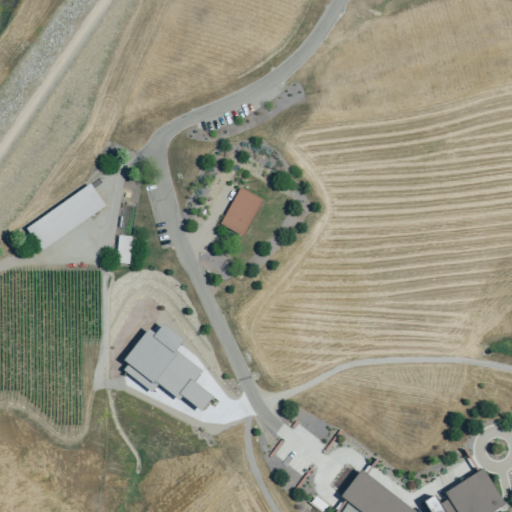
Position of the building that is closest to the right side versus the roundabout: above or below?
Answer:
below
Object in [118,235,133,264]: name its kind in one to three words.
shed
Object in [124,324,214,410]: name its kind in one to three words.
building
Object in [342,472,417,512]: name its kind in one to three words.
building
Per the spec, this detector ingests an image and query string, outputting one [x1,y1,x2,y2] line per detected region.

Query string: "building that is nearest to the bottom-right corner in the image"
[442,470,506,512]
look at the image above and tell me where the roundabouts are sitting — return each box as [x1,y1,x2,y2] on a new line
[474,426,512,473]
